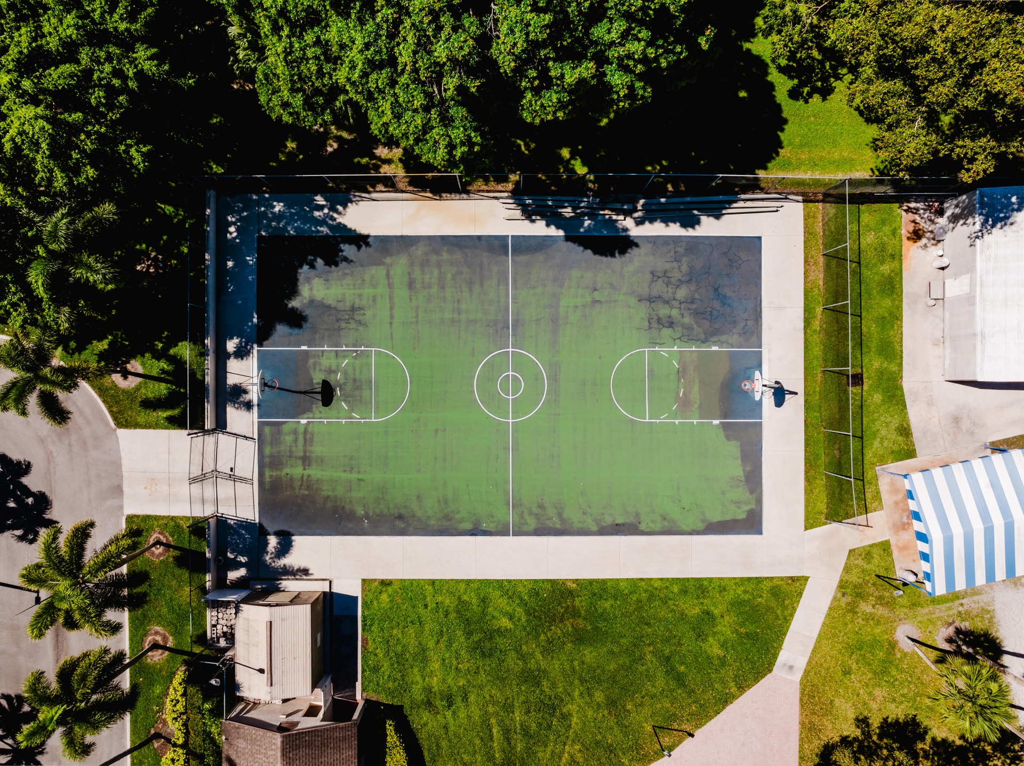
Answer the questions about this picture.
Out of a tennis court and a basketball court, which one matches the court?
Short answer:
basketball court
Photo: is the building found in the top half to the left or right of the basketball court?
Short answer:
right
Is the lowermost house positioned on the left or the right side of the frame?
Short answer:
left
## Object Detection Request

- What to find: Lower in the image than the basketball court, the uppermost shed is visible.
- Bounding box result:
[235,590,323,704]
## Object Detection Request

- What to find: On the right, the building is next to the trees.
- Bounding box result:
[943,187,1024,382]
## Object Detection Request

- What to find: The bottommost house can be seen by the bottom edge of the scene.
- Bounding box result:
[217,676,368,766]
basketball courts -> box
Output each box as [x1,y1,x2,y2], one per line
[257,235,762,535]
